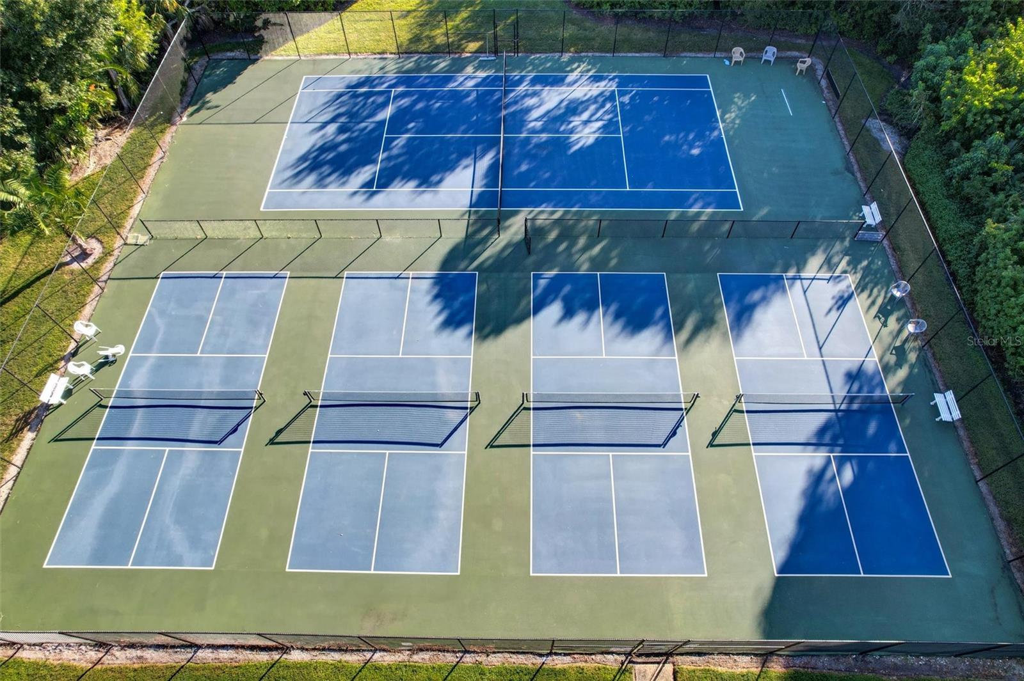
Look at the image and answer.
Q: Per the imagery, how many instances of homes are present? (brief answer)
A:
none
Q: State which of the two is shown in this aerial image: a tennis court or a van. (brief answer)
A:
tennis court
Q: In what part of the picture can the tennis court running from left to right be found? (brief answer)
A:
top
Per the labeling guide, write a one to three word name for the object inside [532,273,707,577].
sports court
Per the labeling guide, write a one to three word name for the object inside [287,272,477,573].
sports court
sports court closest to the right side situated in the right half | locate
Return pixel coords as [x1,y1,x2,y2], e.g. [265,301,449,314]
[716,273,952,578]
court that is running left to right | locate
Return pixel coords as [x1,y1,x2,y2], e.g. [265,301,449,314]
[263,73,741,211]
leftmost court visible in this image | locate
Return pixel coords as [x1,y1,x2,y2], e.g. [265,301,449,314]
[44,271,290,570]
